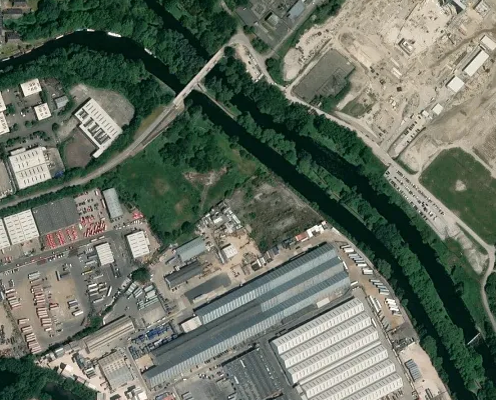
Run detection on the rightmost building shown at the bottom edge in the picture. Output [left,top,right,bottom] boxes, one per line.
[272,297,405,400]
